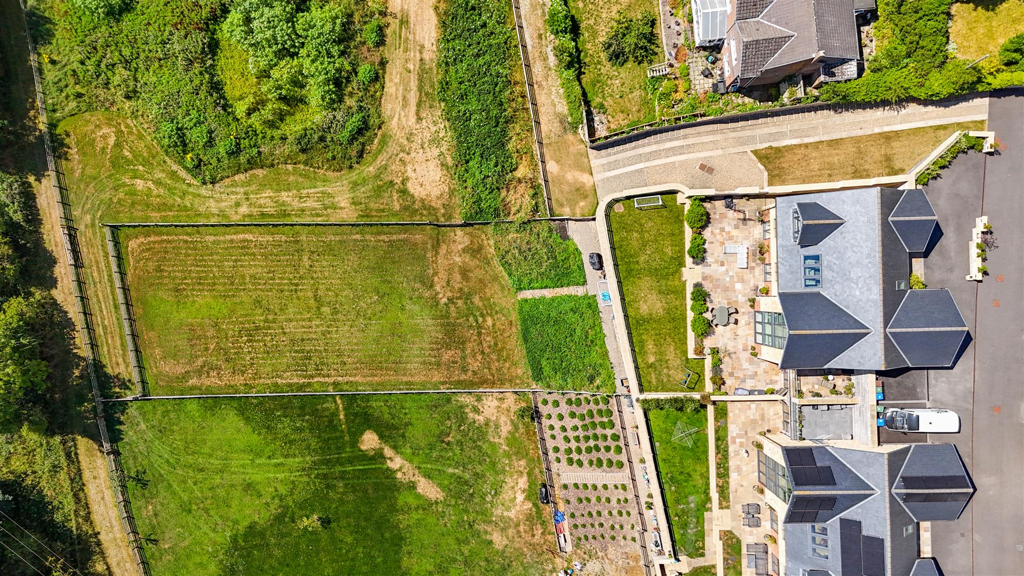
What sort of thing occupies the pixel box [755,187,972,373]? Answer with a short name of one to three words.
house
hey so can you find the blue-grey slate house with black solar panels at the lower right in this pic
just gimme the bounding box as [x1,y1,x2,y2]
[757,433,975,576]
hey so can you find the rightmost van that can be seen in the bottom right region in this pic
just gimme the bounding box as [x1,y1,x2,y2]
[883,406,961,435]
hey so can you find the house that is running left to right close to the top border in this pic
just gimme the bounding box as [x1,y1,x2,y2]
[683,0,882,94]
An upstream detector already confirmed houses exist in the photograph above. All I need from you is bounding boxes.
[683,0,882,94]
[755,187,972,373]
[757,433,975,576]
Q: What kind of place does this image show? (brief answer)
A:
residential area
